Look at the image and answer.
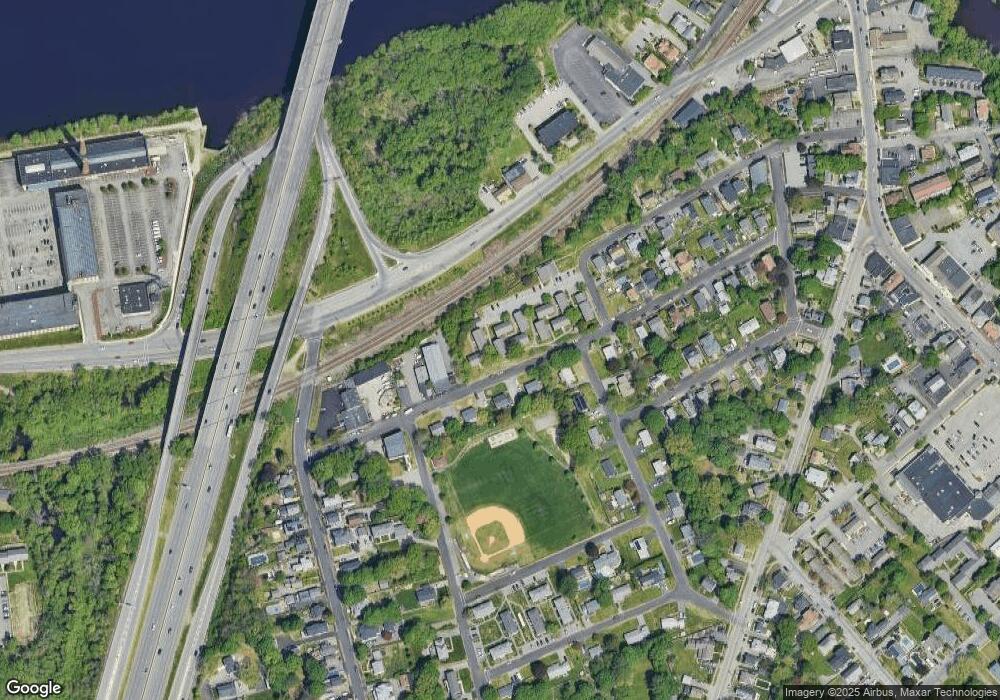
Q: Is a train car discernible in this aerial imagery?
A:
No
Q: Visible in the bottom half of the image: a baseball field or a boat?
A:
baseball field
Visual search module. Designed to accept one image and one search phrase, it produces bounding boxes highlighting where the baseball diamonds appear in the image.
[442,428,601,574]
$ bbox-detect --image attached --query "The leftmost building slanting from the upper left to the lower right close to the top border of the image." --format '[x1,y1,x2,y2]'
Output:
[581,33,643,101]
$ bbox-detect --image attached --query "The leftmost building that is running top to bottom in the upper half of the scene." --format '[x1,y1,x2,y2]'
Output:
[54,189,99,283]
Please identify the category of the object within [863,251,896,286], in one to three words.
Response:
building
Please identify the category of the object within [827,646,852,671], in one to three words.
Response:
house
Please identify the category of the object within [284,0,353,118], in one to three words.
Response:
bridge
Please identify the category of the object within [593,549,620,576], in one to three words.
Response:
house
